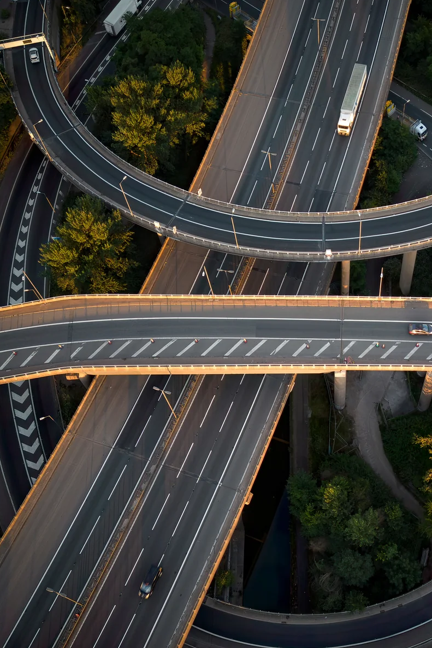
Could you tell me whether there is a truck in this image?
Yes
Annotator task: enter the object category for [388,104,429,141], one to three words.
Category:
truck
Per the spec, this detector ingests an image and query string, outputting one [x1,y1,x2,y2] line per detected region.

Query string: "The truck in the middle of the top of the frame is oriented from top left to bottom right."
[228,1,260,34]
